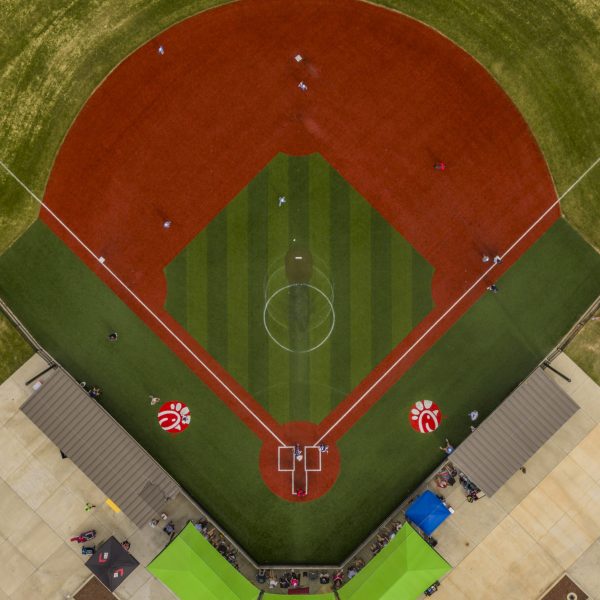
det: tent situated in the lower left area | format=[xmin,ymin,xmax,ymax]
[85,524,147,592]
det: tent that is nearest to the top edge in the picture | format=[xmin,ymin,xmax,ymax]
[402,483,452,535]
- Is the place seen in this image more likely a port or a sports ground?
sports ground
